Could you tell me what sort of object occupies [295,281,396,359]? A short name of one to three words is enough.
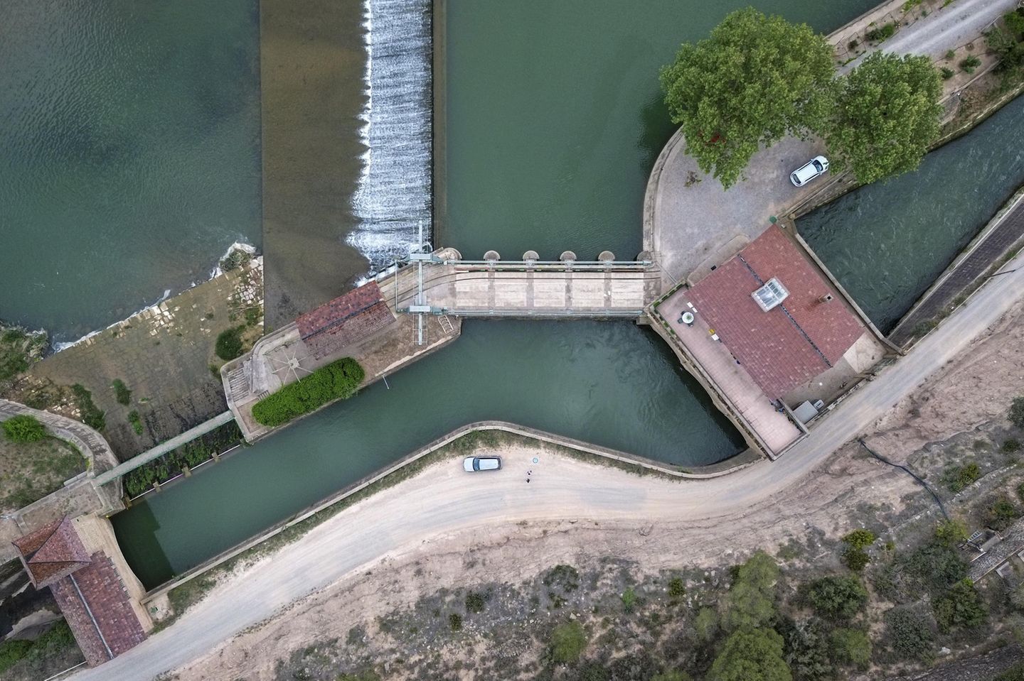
shed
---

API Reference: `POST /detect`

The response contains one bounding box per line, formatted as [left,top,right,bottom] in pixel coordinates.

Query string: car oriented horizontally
[462,455,503,475]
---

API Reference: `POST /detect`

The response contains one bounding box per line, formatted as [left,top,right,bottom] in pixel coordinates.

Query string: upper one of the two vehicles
[790,155,830,187]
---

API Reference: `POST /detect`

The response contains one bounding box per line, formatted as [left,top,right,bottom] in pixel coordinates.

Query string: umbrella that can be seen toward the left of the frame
[267,341,313,384]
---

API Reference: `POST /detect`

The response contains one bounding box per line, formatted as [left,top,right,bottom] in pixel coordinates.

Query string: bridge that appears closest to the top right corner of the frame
[437,248,663,319]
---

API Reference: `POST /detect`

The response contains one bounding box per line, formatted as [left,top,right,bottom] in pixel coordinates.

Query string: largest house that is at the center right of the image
[684,224,866,400]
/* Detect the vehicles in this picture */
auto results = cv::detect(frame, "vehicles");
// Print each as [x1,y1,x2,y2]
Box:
[462,455,503,475]
[790,155,830,187]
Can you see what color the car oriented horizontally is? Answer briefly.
white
